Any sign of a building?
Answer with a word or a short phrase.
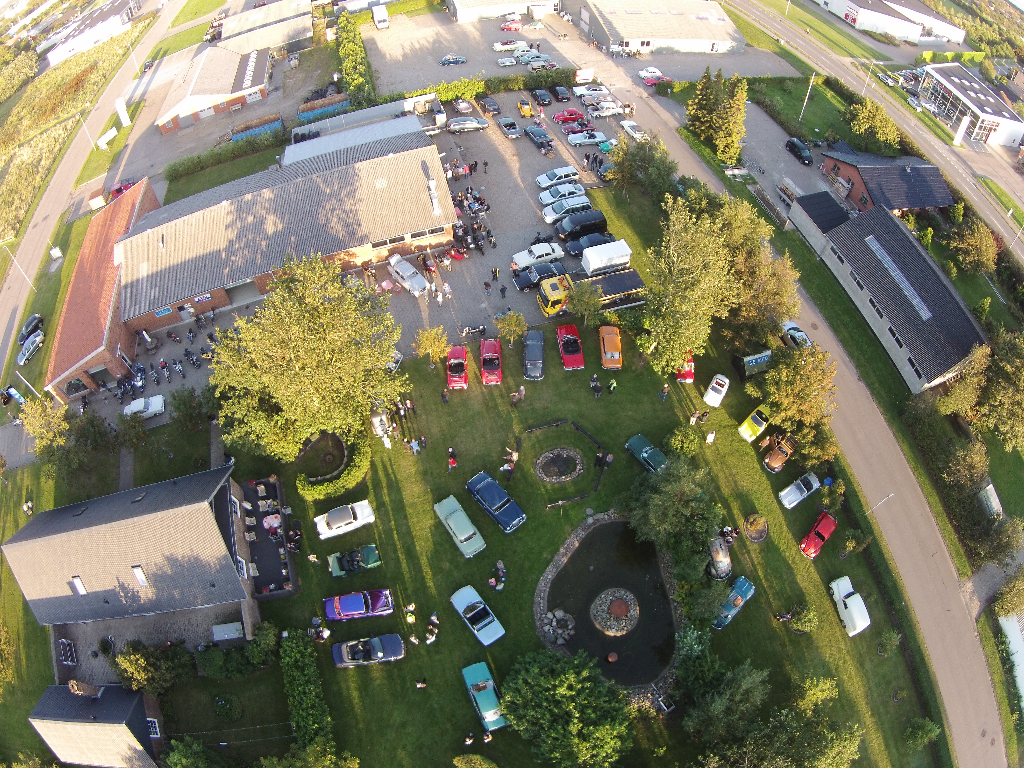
Yes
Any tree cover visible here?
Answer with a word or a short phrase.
Yes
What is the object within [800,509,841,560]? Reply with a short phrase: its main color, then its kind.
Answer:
red car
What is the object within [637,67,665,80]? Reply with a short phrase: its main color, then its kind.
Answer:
white vehicle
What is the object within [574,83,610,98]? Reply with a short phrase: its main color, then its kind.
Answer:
white car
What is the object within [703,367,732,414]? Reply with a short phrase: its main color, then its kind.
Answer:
white car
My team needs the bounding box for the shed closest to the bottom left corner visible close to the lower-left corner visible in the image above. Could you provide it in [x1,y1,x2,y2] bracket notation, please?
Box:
[28,684,172,768]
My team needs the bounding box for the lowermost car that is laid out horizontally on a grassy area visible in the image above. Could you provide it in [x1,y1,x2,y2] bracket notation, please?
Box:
[332,633,407,670]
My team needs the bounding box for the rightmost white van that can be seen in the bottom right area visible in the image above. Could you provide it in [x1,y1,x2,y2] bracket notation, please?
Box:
[832,575,875,637]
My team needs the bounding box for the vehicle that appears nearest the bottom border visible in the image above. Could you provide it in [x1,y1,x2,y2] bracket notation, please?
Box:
[459,661,514,734]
